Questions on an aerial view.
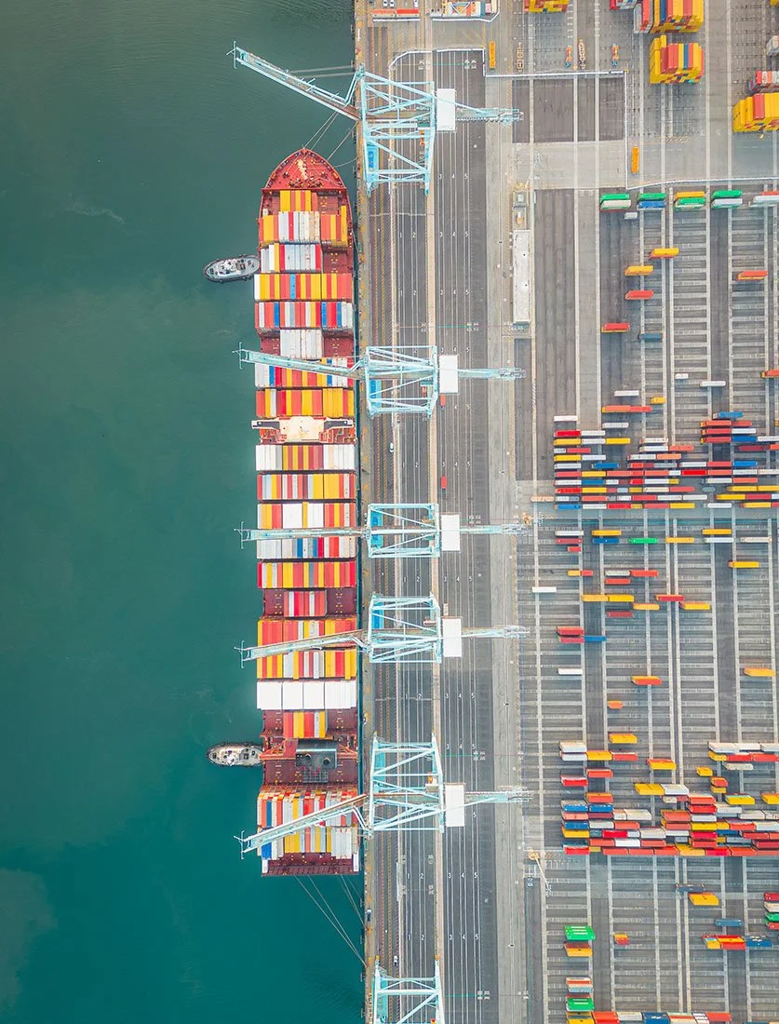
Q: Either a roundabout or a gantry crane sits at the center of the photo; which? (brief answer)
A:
gantry crane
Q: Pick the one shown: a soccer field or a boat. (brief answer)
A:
boat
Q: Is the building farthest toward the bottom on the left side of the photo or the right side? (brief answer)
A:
right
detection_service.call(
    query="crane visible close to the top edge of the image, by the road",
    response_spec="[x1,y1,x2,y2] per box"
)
[227,37,521,194]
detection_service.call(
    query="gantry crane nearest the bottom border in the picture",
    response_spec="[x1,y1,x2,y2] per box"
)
[371,960,445,1024]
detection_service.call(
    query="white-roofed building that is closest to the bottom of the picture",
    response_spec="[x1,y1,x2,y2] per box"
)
[506,228,531,329]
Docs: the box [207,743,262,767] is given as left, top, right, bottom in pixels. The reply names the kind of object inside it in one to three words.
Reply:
boat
